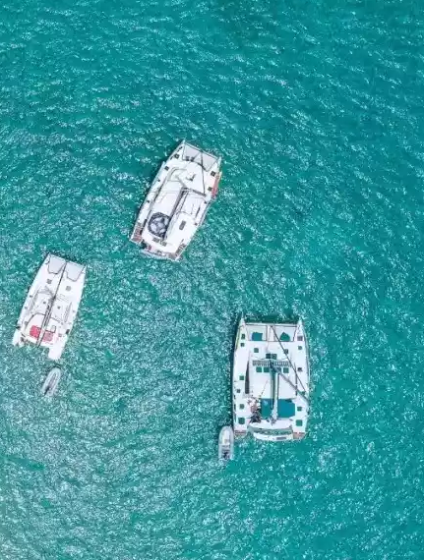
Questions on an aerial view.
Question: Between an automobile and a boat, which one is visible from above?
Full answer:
There is a boat in the scene.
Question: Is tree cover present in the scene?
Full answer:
No, there is no tree cover in the image.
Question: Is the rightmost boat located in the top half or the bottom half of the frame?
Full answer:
It is in the bottom half that the rightmost boat appears.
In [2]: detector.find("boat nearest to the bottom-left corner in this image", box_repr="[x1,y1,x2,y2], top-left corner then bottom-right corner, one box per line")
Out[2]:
[40,367,58,399]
